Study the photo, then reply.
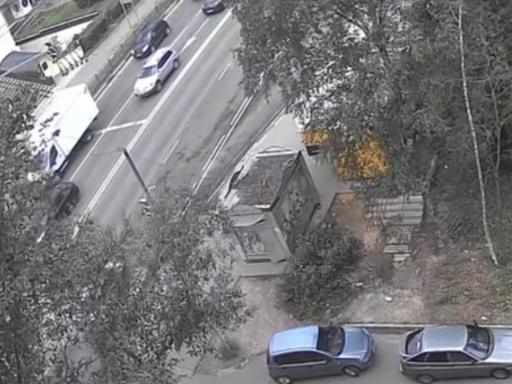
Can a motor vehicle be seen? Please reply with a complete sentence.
Yes, a motor vehicle can be made out from above.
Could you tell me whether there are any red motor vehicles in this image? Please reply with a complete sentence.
No, this view has no red motor vehicle in it.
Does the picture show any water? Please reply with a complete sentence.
No, the picture contains no water.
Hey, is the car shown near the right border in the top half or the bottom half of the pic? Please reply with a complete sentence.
Seen from above, the car shown near the right border lies in the bottom half of the view.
